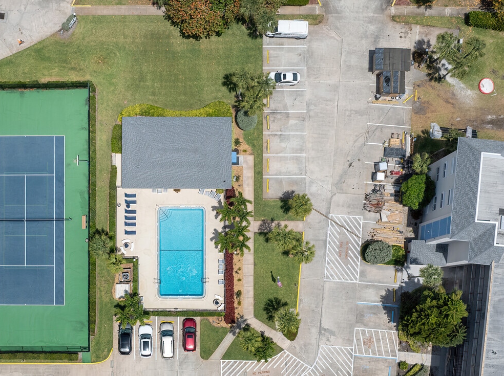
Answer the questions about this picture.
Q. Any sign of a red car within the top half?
No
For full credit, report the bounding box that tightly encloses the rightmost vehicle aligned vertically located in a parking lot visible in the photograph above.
[181,319,198,352]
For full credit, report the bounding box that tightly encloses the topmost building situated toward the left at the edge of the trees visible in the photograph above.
[122,116,233,191]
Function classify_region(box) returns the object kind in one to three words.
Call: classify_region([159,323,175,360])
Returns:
car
